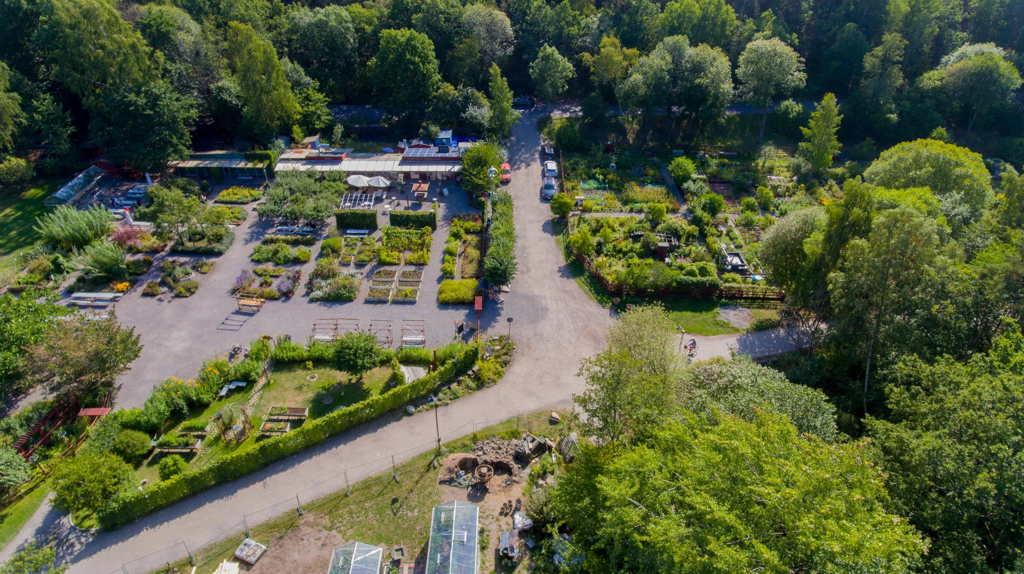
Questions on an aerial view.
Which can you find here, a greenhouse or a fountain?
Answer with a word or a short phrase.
greenhouse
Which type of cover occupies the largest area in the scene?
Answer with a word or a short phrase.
trees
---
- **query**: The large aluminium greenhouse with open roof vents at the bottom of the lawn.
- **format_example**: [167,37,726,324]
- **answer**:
[422,500,482,574]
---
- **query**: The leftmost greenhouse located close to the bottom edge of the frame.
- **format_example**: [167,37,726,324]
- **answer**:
[325,540,385,574]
